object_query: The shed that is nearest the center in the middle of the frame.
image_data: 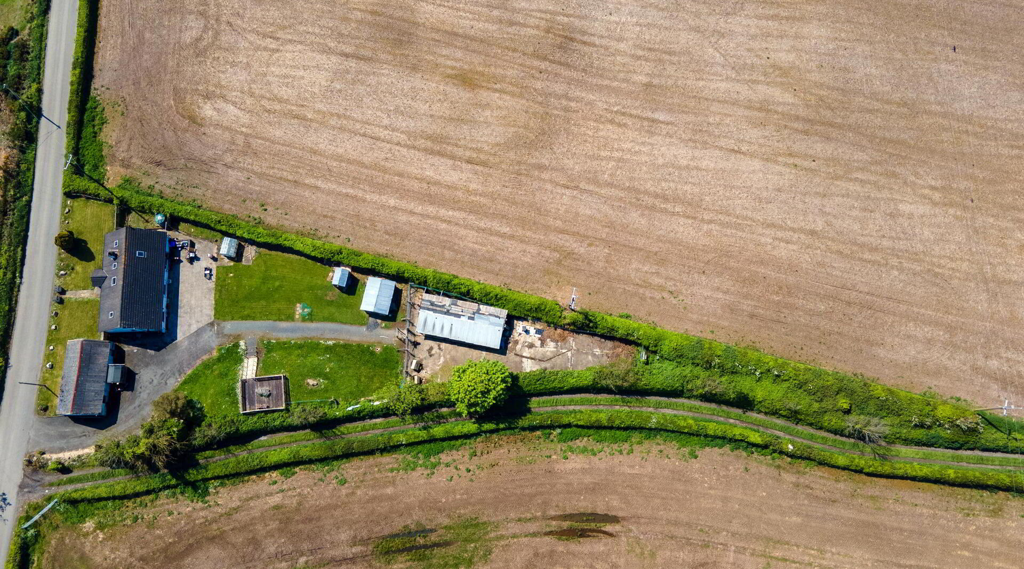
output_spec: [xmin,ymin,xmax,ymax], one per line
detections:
[415,294,508,349]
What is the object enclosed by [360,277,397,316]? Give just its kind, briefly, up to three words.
shed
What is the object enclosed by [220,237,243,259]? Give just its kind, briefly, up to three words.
greenhouse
